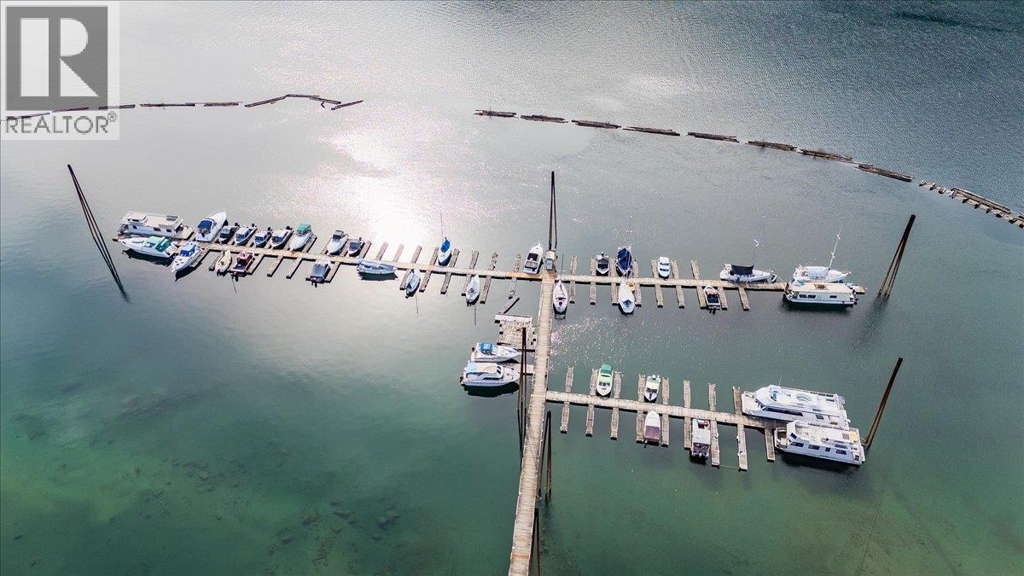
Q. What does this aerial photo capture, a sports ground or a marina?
marina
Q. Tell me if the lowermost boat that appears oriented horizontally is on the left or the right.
right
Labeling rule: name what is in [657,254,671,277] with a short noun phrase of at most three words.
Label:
boat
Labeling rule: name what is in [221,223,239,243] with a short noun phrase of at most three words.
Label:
boat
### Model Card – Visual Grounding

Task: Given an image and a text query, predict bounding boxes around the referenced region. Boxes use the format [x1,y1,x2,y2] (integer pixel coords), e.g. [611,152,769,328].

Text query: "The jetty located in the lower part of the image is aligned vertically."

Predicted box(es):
[497,282,554,576]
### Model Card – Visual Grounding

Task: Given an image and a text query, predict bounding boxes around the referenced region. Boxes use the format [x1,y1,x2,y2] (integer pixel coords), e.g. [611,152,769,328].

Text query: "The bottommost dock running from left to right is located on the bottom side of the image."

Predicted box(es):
[546,366,783,472]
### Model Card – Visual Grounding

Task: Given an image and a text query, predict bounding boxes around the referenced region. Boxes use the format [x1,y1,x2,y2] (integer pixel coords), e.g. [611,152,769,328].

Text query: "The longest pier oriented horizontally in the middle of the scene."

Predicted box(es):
[112,223,866,311]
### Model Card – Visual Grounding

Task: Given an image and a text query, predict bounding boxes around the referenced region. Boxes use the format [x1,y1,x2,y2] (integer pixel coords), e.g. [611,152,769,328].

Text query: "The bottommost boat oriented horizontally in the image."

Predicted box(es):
[775,412,867,467]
